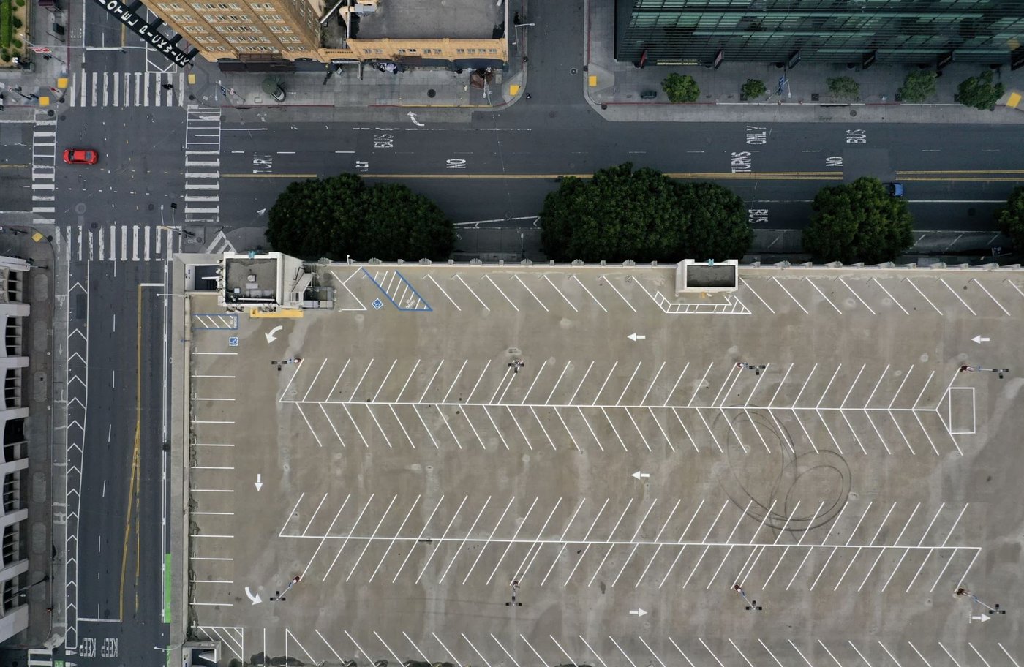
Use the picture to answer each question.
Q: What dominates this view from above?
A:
buildings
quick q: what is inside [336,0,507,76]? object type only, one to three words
building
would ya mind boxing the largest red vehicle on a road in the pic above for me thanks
[61,146,94,163]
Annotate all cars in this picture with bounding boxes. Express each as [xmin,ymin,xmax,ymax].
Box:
[880,181,906,197]
[61,146,94,163]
